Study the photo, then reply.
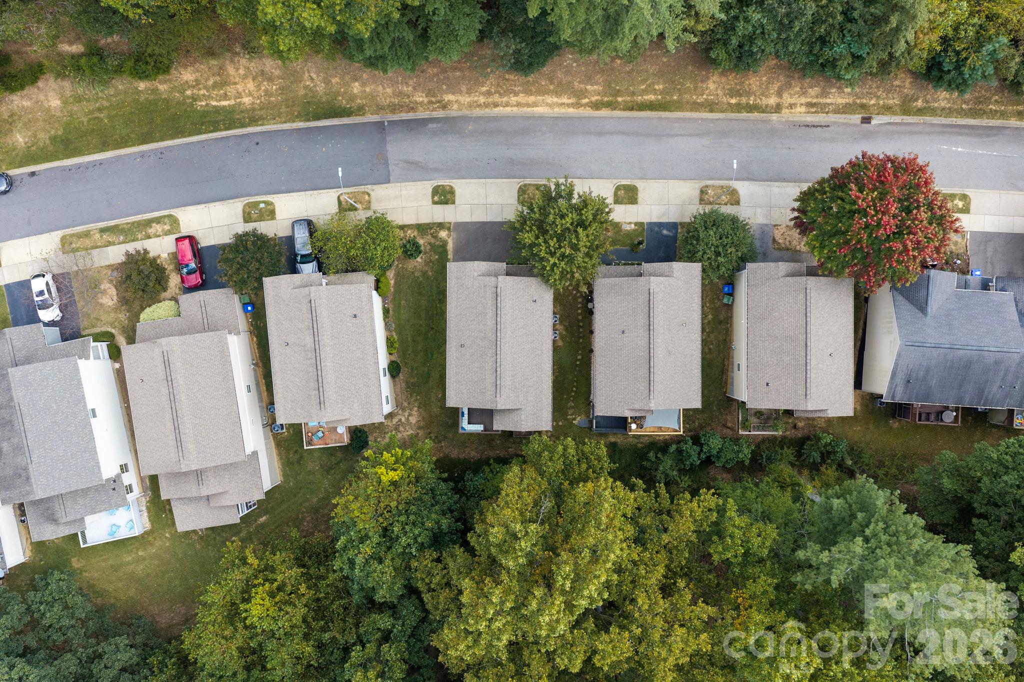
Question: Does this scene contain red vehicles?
Yes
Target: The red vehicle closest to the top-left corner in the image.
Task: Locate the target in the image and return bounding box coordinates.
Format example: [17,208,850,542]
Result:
[175,234,209,289]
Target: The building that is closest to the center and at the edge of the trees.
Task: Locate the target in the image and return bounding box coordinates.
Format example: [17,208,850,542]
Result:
[445,261,554,432]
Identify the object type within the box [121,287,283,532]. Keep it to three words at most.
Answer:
house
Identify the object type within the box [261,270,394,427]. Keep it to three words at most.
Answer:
house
